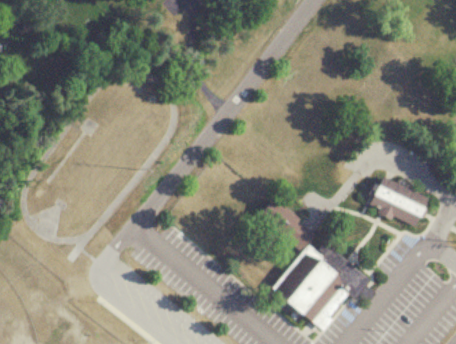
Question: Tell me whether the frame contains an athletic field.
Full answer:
Yes, the photo shows an athletic field.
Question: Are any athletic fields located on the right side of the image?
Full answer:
No, the scene shows no athletic field on the right side of the image.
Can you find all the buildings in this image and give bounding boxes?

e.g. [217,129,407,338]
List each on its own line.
[372,178,430,226]
[274,244,352,332]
